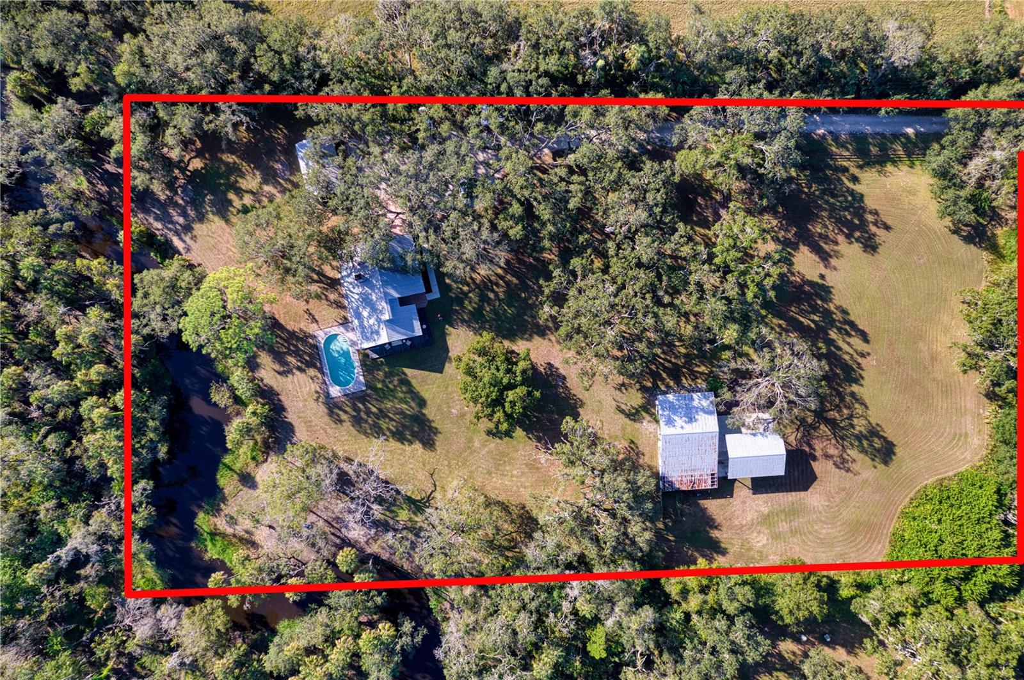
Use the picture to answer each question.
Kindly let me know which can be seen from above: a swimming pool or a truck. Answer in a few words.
swimming pool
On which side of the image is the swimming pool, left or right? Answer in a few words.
left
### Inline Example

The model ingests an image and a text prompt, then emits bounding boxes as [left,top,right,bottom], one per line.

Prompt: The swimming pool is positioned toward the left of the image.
[317,332,361,389]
